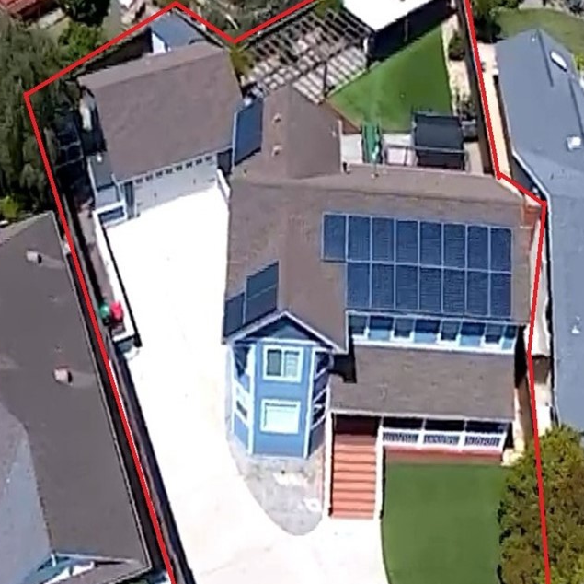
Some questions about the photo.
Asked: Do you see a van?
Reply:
No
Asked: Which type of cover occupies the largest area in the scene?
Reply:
buildings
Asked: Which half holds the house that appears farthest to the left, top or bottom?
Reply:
bottom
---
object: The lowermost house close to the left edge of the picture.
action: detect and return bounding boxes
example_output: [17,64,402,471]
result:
[0,214,152,584]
